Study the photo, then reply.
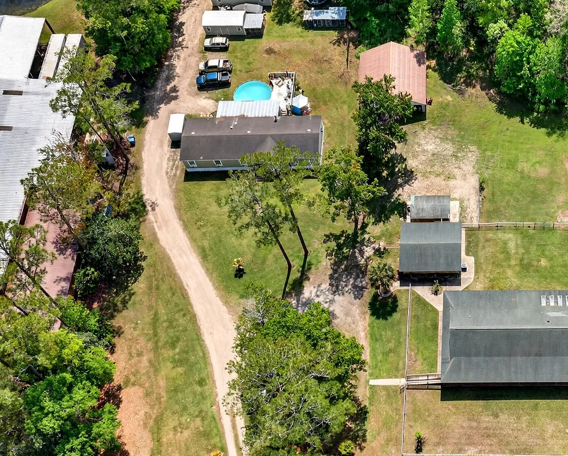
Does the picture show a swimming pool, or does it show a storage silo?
swimming pool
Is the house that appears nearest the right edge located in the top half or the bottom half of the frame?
bottom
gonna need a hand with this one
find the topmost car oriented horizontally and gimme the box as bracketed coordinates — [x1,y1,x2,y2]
[202,37,231,51]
